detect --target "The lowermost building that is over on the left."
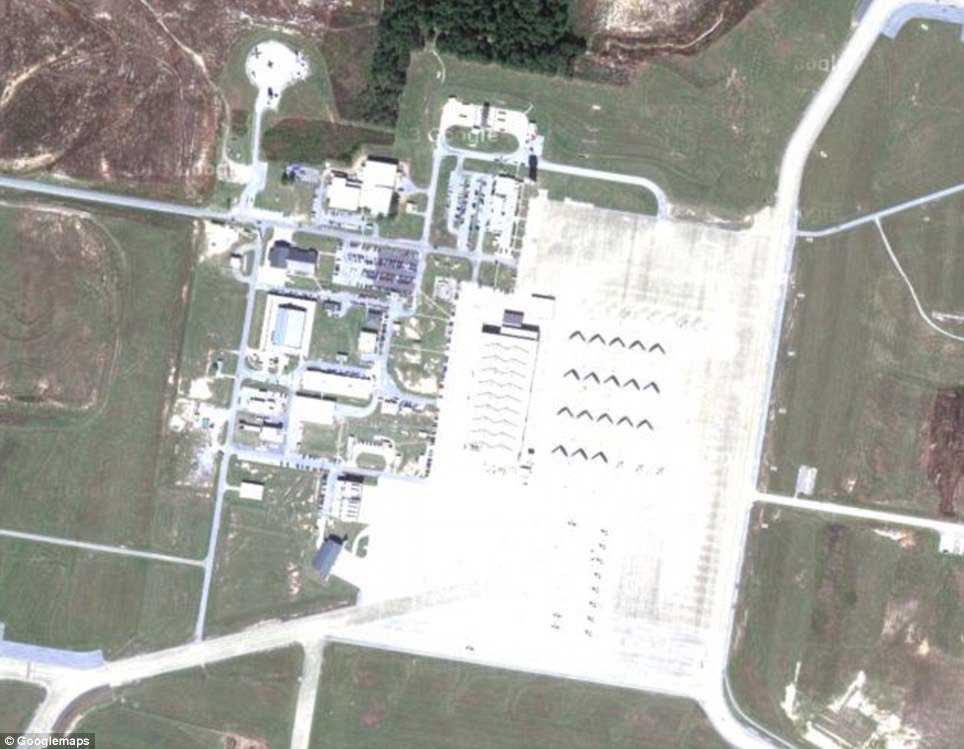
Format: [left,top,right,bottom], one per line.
[310,539,345,582]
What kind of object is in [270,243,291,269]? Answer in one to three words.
house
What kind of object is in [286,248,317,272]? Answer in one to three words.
house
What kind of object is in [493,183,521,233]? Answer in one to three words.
building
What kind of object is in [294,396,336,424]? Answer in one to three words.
building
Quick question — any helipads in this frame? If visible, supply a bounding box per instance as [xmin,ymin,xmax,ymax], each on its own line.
[245,40,310,162]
